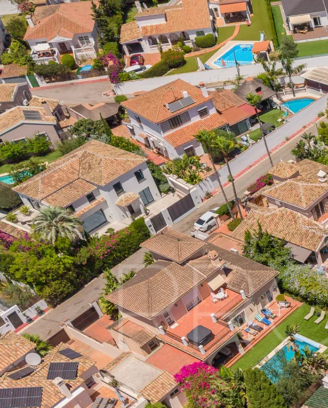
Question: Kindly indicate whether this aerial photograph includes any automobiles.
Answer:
Yes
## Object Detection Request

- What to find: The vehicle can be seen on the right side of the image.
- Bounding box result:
[190,205,223,229]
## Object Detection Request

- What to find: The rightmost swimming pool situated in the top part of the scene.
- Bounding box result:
[279,96,317,116]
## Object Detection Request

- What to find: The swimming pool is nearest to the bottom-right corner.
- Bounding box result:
[257,332,327,389]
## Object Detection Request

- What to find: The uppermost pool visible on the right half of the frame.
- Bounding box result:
[204,41,273,67]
